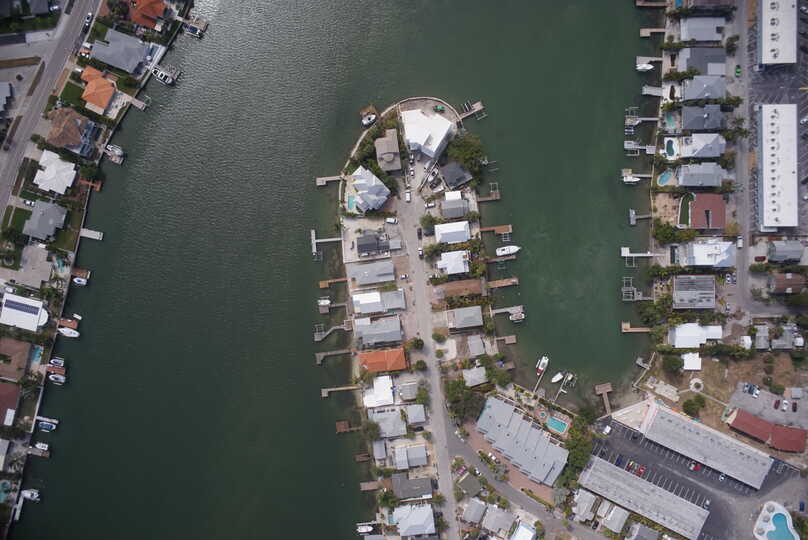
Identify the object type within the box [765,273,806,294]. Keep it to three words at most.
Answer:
house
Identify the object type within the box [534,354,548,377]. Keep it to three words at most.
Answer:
boat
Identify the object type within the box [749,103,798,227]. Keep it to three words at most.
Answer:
building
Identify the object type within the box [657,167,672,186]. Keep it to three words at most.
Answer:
swimming pool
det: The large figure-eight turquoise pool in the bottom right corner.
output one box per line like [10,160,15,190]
[766,512,795,540]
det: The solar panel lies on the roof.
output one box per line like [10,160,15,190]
[4,299,39,313]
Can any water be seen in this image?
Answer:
Yes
